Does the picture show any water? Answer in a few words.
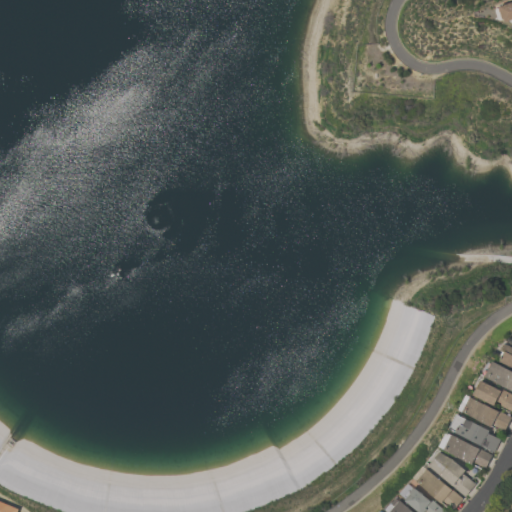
Yes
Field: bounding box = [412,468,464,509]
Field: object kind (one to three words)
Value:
house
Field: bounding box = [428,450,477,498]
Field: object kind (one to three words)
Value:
house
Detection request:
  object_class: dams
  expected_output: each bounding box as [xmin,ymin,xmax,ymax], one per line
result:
[0,297,434,512]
